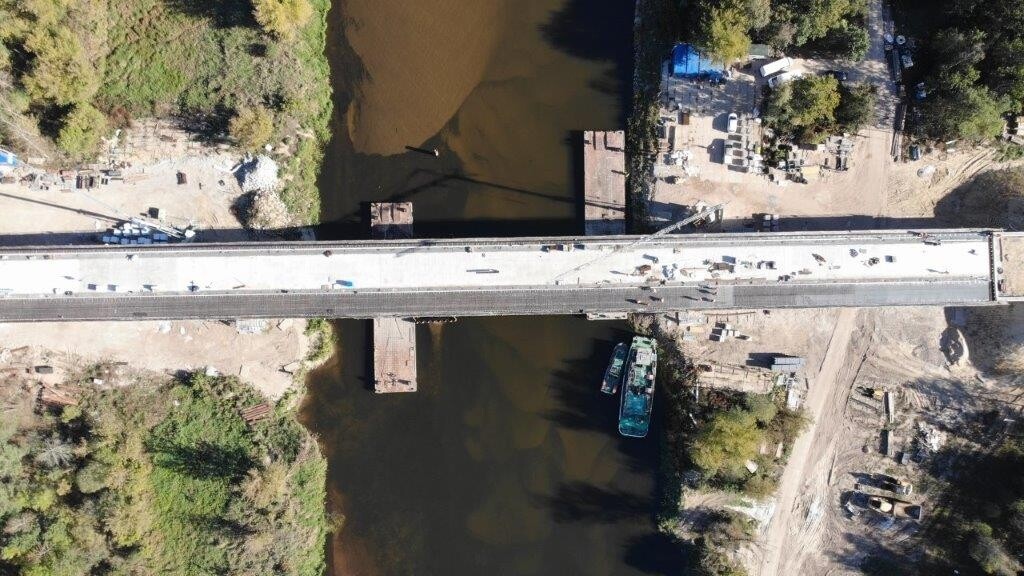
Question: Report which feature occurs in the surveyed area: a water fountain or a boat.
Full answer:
It is a boat that can be seen here.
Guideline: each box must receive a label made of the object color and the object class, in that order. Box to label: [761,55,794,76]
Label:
white truck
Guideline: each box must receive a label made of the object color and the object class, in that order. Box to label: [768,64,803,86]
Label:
white vehicle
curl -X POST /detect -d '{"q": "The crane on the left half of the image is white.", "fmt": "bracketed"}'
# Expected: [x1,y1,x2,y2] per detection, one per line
[77,187,197,243]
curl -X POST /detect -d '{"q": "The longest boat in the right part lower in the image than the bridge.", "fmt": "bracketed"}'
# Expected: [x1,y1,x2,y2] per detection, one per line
[617,334,660,439]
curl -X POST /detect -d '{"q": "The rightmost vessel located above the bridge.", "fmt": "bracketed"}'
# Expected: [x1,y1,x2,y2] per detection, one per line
[583,131,628,236]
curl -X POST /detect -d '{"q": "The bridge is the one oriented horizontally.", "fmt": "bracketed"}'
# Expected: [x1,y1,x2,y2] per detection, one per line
[0,227,1024,322]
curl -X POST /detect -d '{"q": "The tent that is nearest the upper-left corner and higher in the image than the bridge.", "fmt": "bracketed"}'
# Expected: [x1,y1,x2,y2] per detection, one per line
[0,147,20,172]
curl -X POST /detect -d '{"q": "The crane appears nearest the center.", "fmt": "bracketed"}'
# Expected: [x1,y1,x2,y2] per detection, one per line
[556,199,731,279]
